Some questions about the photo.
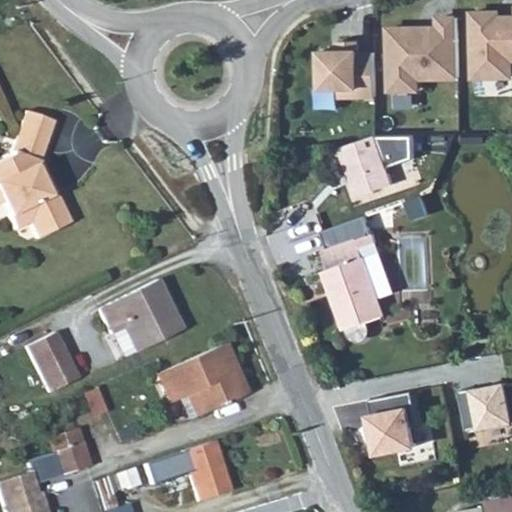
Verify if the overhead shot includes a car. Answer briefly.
Yes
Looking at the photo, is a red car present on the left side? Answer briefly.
No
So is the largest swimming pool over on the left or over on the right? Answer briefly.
right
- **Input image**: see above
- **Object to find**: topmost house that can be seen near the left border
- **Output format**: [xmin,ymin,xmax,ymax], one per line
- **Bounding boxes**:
[0,110,74,238]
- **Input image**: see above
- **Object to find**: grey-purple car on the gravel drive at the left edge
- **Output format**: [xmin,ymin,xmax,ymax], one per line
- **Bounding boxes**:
[6,328,30,345]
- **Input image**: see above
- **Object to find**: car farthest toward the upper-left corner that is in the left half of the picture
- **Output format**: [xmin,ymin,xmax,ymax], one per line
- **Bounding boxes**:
[186,138,202,160]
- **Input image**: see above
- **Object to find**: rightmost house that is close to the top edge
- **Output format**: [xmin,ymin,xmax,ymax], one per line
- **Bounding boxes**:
[464,10,512,82]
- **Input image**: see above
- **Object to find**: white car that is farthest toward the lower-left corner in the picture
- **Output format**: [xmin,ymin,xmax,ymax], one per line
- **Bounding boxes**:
[46,480,70,494]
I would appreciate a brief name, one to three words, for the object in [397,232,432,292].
swimming pool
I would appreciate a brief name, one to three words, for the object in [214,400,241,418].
vehicle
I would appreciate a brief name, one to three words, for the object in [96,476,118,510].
building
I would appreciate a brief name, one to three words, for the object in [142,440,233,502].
house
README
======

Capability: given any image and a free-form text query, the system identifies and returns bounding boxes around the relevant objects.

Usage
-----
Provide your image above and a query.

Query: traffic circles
[136,15,250,129]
